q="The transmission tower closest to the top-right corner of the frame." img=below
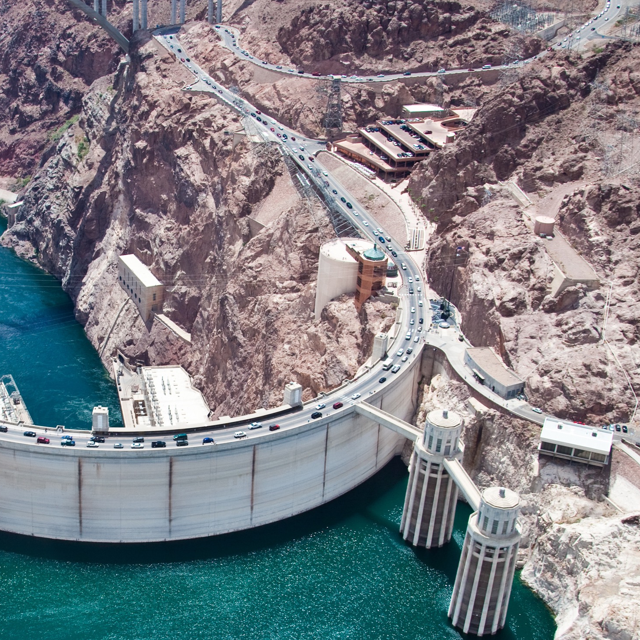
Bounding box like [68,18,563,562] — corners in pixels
[618,5,637,41]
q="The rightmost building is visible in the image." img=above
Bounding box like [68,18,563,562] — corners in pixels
[535,416,614,486]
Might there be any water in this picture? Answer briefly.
Yes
